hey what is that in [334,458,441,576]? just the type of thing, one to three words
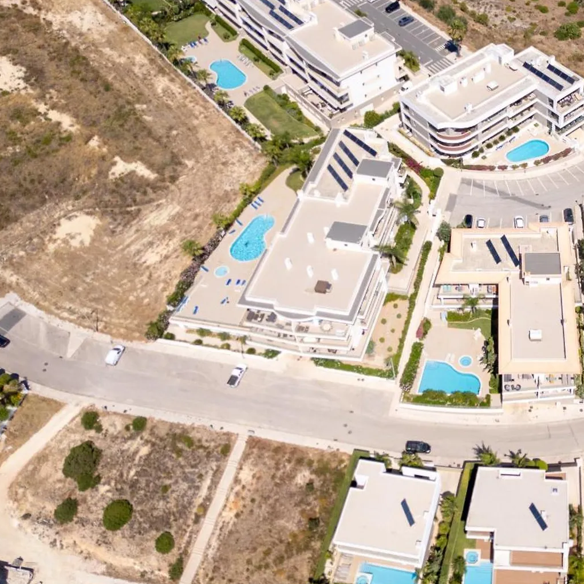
house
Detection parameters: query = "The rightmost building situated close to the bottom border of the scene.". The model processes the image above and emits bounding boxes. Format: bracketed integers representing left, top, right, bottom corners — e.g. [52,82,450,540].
[466,466,568,578]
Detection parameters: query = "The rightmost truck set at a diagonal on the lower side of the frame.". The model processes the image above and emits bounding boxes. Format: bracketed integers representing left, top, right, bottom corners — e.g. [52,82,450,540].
[222,362,251,389]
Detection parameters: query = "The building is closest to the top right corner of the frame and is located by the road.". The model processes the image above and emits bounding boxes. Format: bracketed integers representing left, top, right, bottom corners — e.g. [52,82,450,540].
[400,42,584,166]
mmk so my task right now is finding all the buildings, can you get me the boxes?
[334,458,441,576]
[400,42,584,166]
[432,223,582,408]
[206,0,406,125]
[238,126,414,366]
[466,466,568,578]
